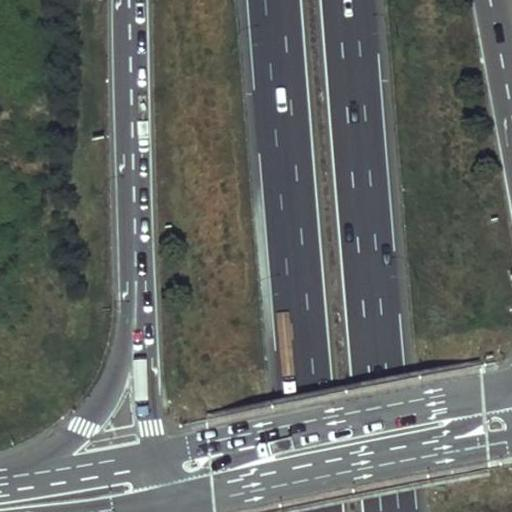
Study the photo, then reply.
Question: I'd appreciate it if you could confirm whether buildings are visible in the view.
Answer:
No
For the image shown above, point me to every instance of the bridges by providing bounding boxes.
[204,360,489,512]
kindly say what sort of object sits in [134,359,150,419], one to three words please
vehicle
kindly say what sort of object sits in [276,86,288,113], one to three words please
vehicle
